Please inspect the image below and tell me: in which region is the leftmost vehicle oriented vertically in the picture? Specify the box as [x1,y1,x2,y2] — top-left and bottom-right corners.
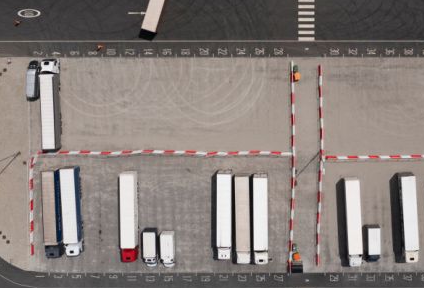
[23,60,38,99]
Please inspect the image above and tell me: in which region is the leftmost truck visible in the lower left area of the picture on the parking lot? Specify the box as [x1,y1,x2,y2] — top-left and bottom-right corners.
[41,167,65,260]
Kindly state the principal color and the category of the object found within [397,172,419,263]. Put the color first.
white truck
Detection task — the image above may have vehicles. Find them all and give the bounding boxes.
[39,57,62,150]
[143,227,158,266]
[141,0,167,33]
[161,231,175,262]
[234,173,252,264]
[365,224,382,265]
[23,60,38,99]
[253,173,270,265]
[217,170,233,261]
[344,176,364,268]
[41,167,65,260]
[120,170,139,263]
[397,172,419,263]
[59,165,84,258]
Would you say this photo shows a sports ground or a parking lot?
parking lot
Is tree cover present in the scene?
No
